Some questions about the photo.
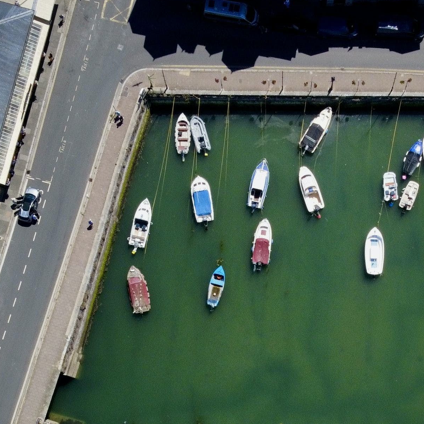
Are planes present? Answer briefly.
No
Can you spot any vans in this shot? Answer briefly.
Yes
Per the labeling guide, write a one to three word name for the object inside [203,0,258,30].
van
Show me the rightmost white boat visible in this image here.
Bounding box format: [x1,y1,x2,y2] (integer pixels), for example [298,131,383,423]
[399,180,419,217]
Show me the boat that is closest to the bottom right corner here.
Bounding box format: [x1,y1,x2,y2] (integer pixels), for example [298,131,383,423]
[365,227,384,283]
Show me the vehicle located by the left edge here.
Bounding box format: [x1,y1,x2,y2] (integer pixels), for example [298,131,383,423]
[10,186,43,223]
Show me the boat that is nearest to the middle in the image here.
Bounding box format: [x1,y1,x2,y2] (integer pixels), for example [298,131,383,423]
[191,175,214,229]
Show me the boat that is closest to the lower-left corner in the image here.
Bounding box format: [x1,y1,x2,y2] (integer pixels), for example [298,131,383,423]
[127,266,150,315]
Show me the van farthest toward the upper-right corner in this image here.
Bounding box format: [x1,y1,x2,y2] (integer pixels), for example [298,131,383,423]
[375,16,423,47]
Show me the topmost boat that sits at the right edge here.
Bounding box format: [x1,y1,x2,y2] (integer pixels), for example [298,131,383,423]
[403,139,422,183]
